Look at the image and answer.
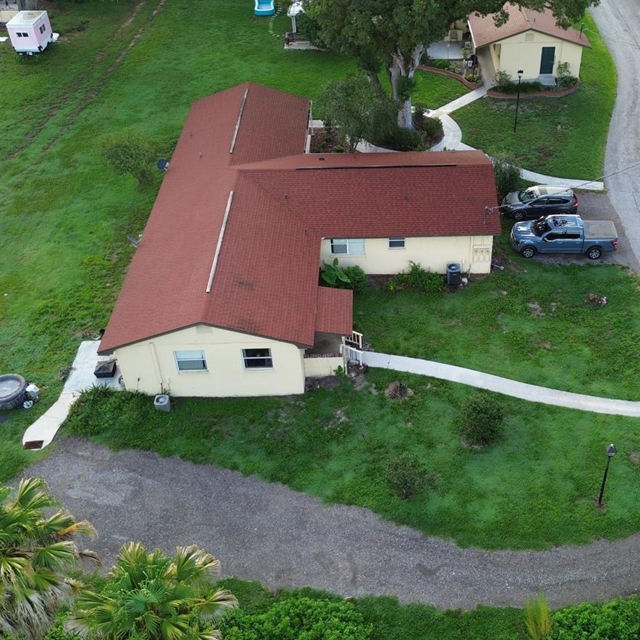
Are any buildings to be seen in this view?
Yes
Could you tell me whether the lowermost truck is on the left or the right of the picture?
right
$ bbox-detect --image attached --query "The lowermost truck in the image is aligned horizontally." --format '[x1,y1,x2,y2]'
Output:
[509,211,620,256]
